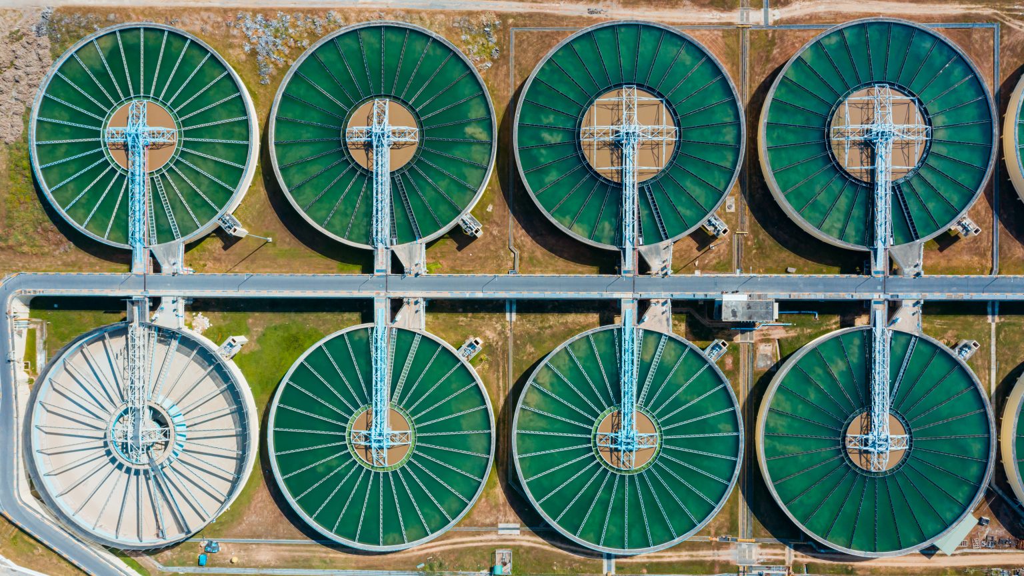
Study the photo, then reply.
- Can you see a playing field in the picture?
No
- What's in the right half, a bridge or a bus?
bridge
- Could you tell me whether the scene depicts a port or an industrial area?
industrial area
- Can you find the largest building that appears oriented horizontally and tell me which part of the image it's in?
right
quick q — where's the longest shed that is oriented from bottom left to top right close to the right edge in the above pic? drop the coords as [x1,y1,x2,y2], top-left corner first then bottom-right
[935,513,979,556]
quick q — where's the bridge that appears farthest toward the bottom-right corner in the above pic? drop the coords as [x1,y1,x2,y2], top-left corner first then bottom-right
[847,305,913,474]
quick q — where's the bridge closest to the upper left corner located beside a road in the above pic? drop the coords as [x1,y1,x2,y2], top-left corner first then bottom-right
[102,98,177,274]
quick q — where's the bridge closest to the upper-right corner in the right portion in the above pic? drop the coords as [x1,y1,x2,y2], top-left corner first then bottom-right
[830,82,934,277]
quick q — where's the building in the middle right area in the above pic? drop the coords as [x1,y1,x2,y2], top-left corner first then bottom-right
[714,295,778,323]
